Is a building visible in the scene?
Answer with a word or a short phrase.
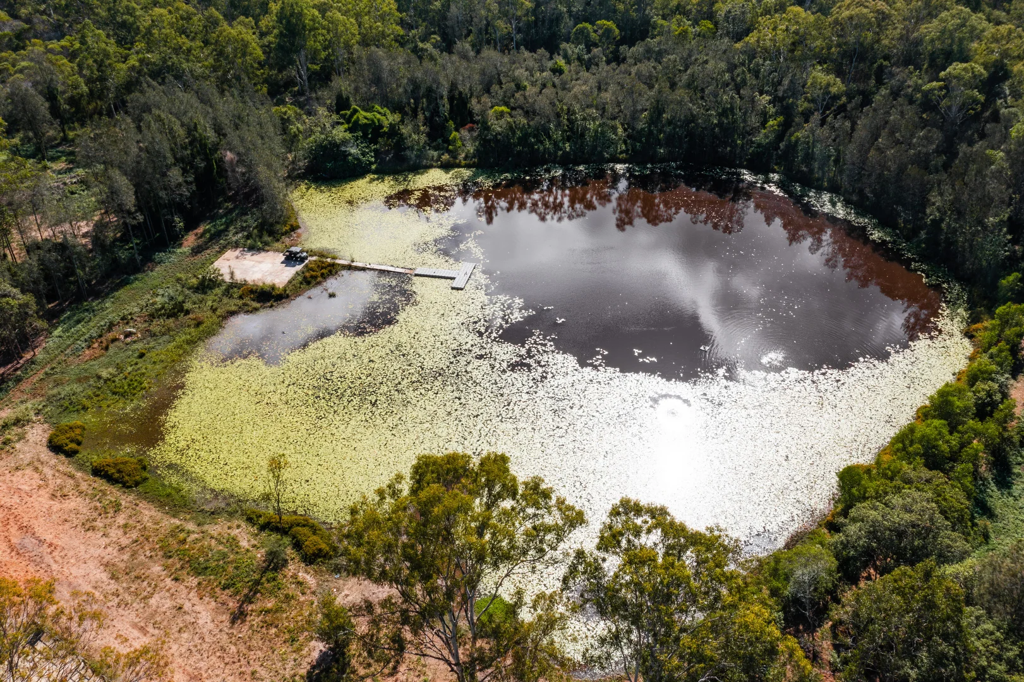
No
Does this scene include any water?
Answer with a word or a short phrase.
Yes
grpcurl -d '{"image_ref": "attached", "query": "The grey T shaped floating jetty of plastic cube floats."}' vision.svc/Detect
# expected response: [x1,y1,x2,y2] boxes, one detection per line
[416,262,471,290]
